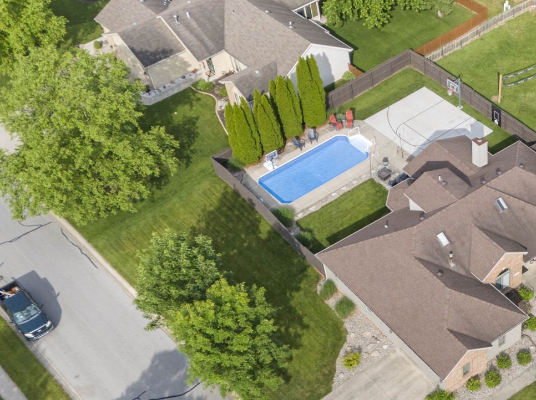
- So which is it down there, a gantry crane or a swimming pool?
swimming pool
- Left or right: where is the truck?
left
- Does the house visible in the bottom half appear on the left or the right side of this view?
right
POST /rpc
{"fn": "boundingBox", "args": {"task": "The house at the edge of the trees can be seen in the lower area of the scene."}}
[314,134,536,394]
